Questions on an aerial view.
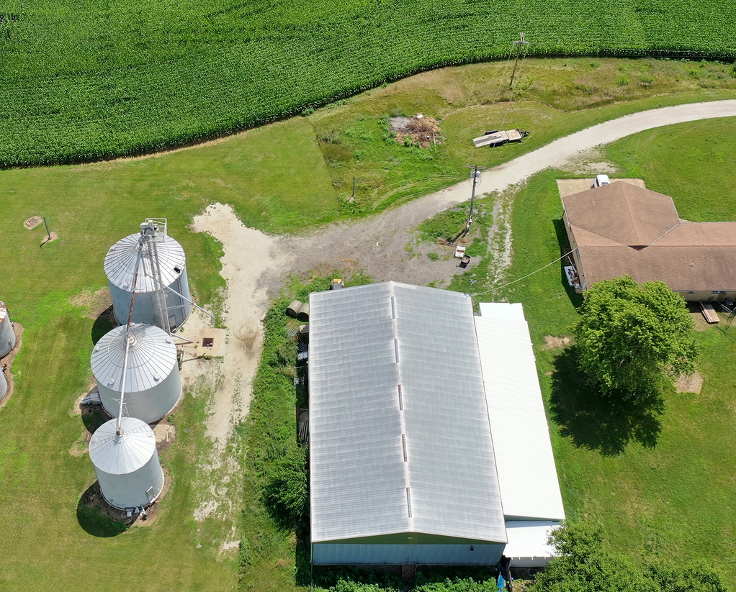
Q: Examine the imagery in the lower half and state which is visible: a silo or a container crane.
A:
silo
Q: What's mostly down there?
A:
grass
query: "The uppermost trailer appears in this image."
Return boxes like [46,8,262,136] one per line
[472,125,531,150]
